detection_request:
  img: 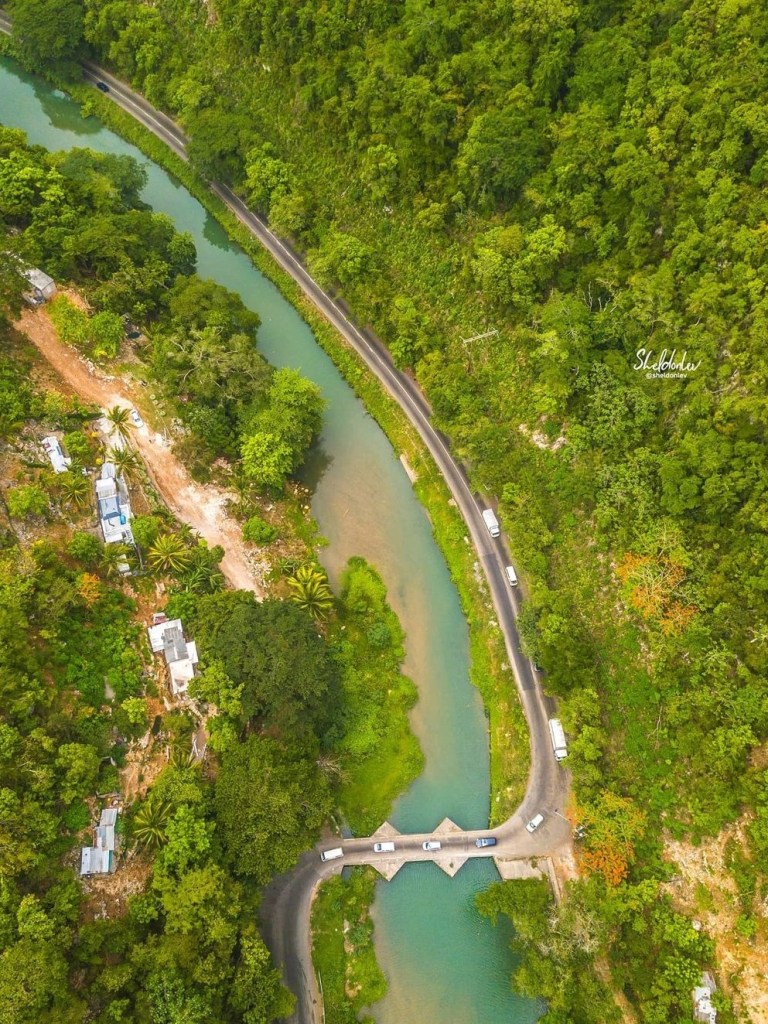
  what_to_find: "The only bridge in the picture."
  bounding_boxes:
[339,816,547,882]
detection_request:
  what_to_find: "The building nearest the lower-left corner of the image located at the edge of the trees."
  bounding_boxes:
[81,809,121,875]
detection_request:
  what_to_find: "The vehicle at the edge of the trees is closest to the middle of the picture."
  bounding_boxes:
[483,508,500,535]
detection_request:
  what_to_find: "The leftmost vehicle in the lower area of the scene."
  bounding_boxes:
[321,847,342,861]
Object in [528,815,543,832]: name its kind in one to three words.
car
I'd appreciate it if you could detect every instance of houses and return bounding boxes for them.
[687,969,717,1024]
[42,437,74,477]
[97,463,137,545]
[7,254,58,306]
[81,809,121,875]
[148,610,200,694]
